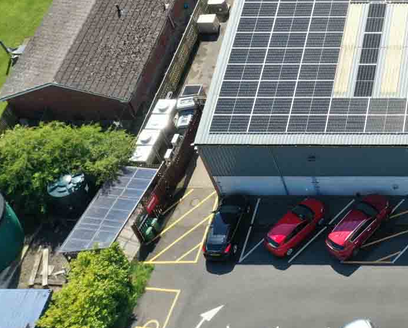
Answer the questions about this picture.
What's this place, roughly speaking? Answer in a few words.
industrial area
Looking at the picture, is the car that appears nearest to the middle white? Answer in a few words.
No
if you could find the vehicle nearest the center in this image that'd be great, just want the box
[202,187,257,259]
